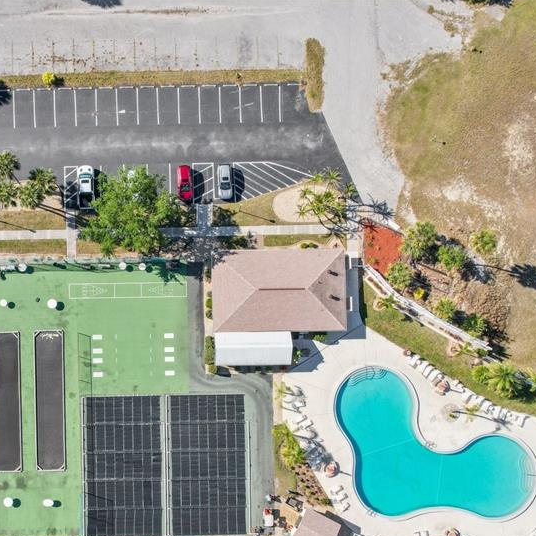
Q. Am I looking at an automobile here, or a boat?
automobile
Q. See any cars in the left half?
Yes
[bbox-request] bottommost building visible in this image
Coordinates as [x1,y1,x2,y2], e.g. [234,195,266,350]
[292,508,341,536]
